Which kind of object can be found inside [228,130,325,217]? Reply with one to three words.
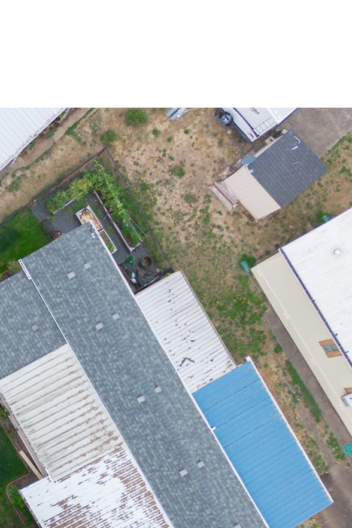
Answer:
shed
